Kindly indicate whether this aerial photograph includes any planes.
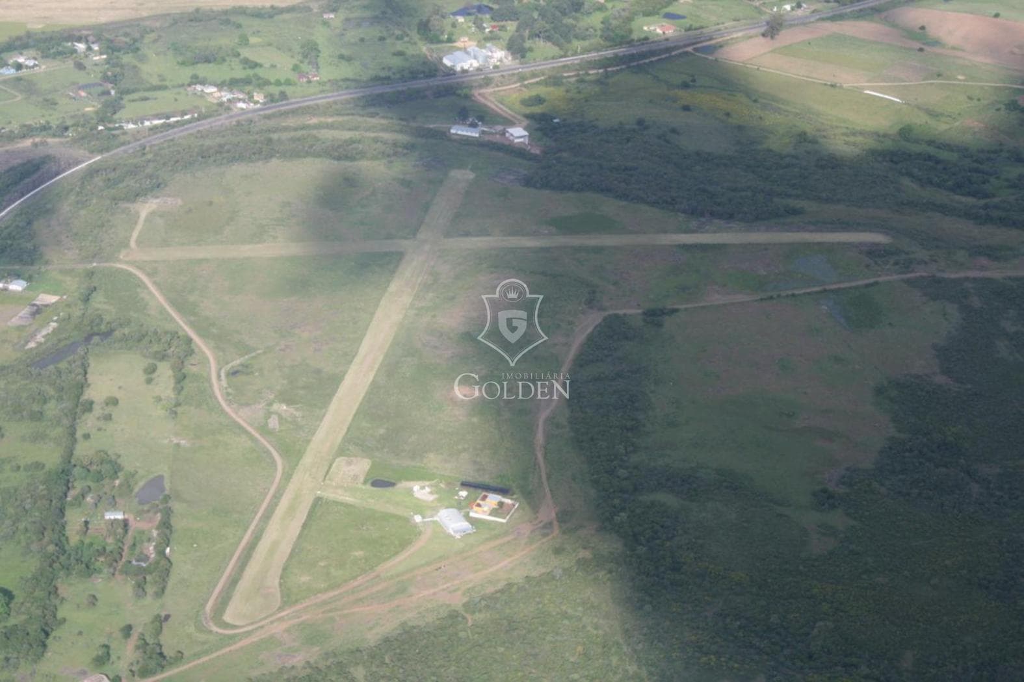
No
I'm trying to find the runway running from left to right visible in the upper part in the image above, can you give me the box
[121,232,892,260]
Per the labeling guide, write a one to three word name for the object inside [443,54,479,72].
building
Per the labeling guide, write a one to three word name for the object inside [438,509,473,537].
hangar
